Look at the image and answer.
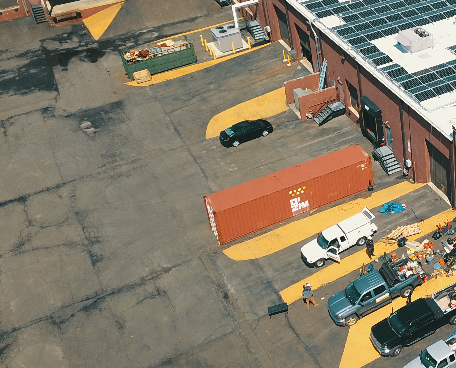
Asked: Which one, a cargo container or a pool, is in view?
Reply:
cargo container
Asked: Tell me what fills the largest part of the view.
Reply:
paved ground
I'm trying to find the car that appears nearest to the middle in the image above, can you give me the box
[211,116,277,147]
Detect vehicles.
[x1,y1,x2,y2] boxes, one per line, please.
[396,336,456,368]
[294,208,373,269]
[320,256,428,330]
[363,282,456,357]
[211,116,277,147]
